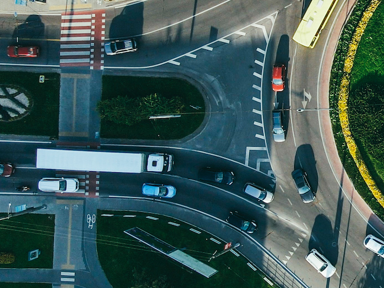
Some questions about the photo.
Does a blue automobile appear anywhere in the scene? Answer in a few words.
Yes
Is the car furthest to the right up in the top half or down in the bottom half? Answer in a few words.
bottom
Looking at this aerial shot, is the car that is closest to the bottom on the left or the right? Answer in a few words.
right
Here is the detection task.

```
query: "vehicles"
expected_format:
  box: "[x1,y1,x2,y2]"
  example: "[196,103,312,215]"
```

[0,161,16,177]
[242,181,275,204]
[292,0,340,50]
[270,64,286,93]
[7,43,41,59]
[270,110,286,141]
[37,176,80,194]
[104,37,139,55]
[304,247,336,279]
[362,234,384,258]
[142,182,177,200]
[32,148,180,176]
[291,167,316,202]
[226,211,257,234]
